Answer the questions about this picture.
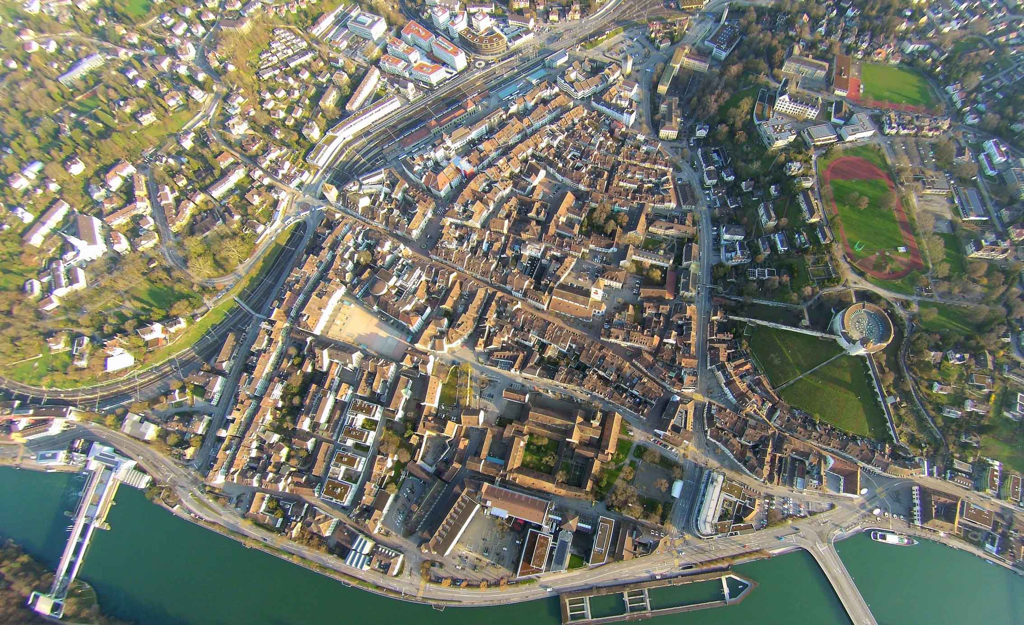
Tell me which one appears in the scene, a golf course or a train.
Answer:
train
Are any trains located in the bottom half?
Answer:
No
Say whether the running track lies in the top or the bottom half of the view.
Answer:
top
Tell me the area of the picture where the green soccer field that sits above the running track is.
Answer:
top right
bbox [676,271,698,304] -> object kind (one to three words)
building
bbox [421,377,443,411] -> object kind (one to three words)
house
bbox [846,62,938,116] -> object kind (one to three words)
soccer field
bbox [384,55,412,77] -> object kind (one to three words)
building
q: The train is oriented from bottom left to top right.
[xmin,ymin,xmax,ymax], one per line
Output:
[383,96,470,149]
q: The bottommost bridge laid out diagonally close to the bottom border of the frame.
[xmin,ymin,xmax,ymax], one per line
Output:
[801,537,878,625]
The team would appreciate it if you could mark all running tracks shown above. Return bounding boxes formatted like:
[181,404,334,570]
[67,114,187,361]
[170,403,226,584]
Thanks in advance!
[818,152,928,285]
